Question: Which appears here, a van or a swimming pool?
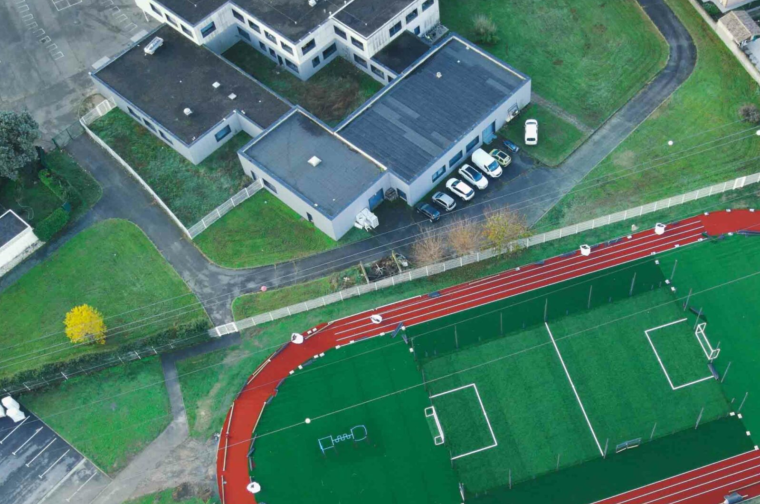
van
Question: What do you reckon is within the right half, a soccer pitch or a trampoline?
soccer pitch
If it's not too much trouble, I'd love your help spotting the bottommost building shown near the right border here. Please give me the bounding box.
[718,11,760,55]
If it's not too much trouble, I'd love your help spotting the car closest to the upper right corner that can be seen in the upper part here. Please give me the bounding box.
[522,119,539,145]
